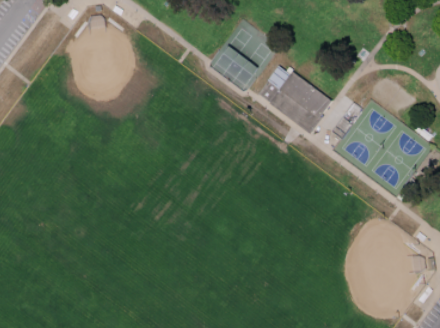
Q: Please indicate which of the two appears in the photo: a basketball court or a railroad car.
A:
basketball court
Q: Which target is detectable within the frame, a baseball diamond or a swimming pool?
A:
baseball diamond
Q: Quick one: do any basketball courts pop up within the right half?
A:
Yes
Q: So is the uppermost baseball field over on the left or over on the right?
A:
left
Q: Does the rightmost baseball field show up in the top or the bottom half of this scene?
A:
bottom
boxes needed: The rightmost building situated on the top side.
[260,66,332,133]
